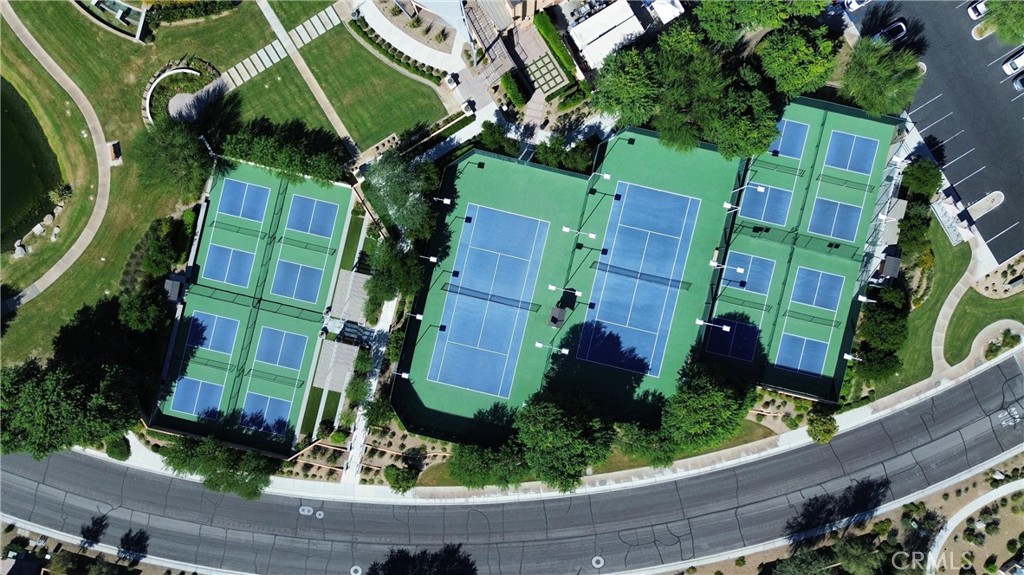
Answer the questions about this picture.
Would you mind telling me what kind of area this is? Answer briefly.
sports ground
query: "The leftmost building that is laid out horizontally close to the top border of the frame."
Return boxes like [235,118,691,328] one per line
[481,0,579,42]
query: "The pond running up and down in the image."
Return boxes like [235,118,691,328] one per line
[0,75,61,250]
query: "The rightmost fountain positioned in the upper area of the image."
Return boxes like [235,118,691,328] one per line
[68,0,147,46]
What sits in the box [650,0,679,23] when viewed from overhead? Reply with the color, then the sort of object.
white umbrella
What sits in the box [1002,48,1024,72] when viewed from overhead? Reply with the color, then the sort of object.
white car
